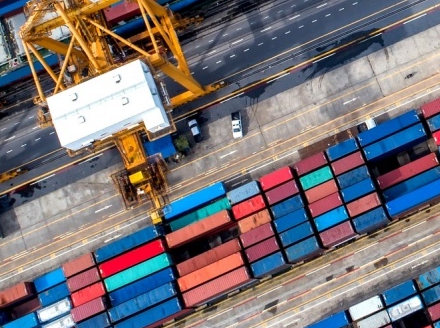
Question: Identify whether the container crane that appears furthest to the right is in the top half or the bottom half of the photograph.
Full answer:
Seen from above, the container crane that appears furthest to the right lies in the top half of the view.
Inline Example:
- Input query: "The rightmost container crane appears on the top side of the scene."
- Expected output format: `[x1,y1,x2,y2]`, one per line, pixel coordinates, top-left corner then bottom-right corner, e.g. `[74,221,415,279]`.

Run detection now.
[9,0,224,222]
